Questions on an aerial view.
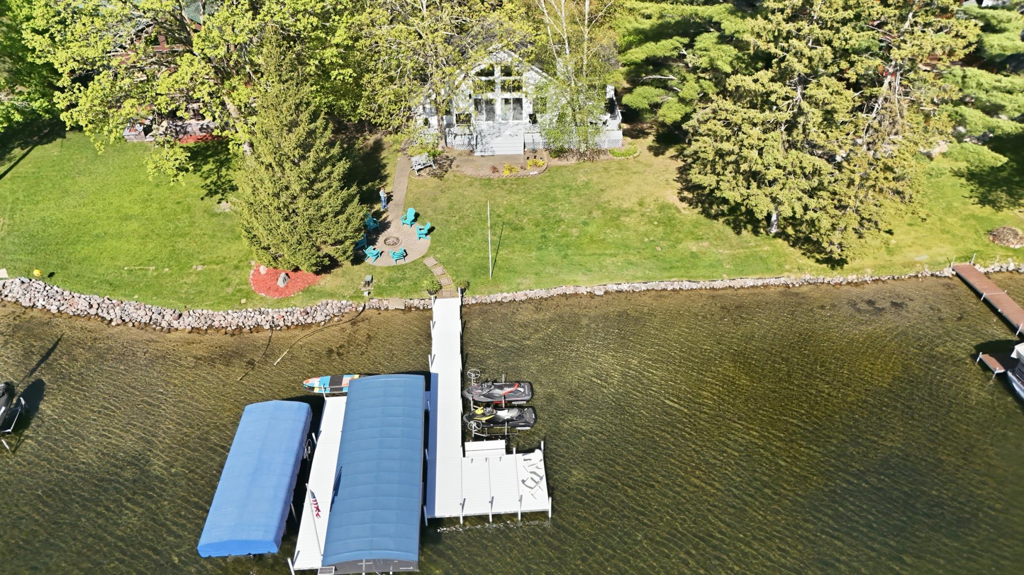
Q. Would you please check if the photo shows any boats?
Yes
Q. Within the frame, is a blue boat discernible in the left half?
No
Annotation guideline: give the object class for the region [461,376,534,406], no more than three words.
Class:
boat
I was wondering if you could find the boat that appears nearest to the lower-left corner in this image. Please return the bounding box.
[0,379,20,425]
